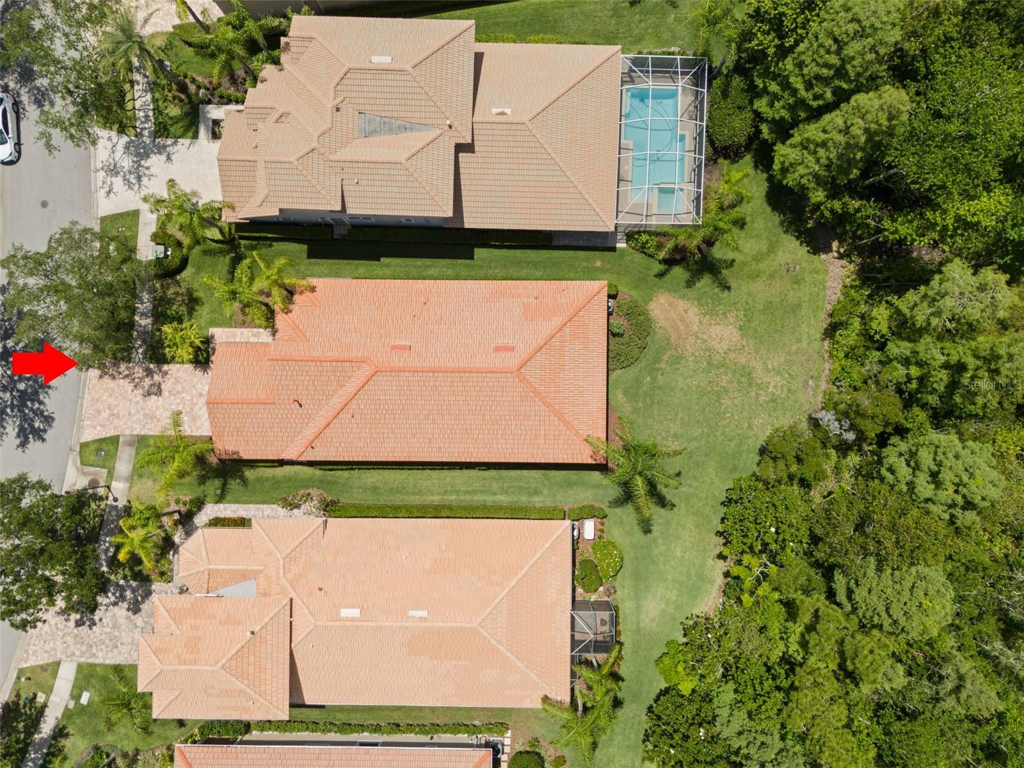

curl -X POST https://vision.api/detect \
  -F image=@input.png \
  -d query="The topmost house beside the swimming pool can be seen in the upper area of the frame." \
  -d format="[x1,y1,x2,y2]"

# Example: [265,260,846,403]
[216,15,623,234]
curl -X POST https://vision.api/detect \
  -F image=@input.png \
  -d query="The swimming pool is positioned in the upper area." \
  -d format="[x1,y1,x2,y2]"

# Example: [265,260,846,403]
[620,83,690,217]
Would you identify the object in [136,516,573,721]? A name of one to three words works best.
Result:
house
